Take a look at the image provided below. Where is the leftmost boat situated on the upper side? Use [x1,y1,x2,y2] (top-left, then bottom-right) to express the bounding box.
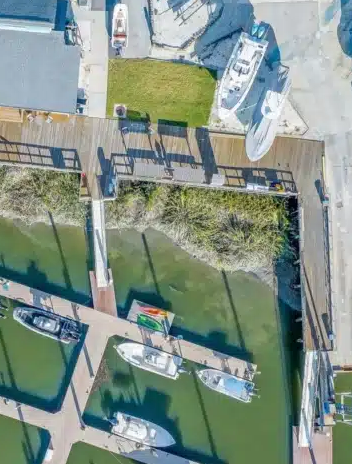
[108,3,131,58]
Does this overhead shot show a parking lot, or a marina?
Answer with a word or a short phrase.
marina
